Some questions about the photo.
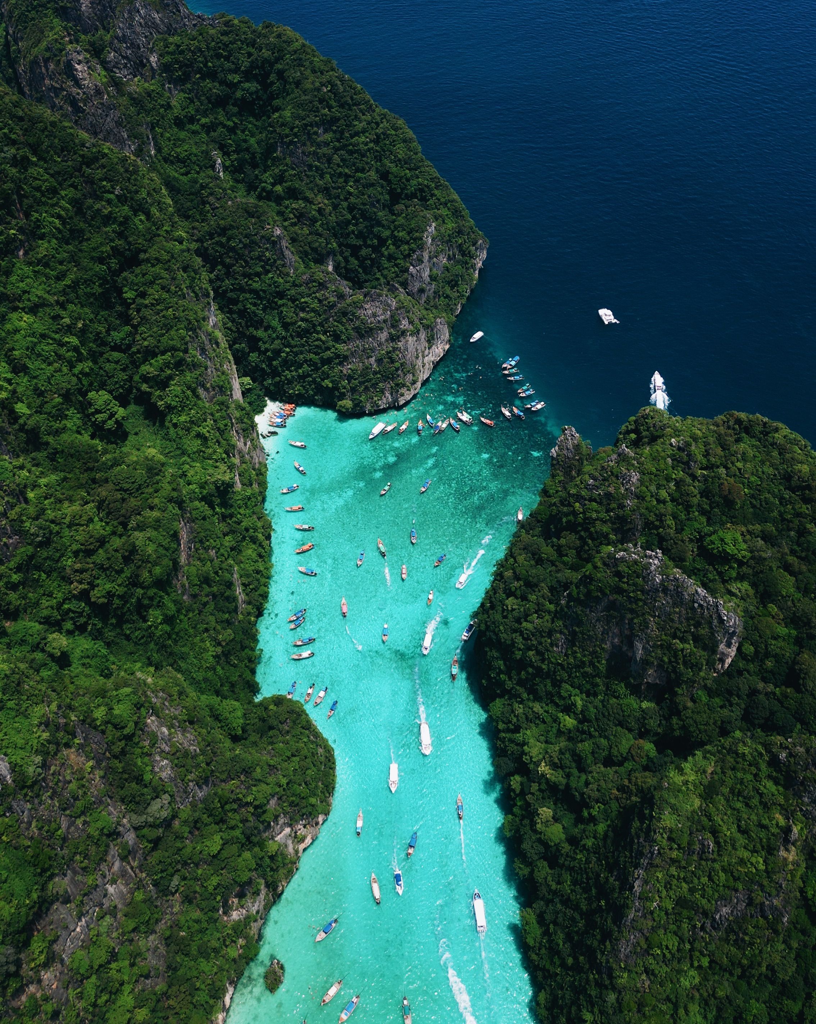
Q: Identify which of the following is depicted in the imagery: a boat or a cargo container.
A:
boat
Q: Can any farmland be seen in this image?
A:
No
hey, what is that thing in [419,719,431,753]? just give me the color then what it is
white boat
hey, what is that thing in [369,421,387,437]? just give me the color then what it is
white boat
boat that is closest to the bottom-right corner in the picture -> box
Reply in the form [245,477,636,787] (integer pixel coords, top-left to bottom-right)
[473,887,487,933]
